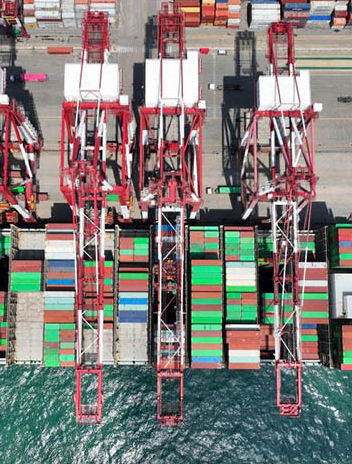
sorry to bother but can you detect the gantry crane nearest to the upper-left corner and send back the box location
[2,0,34,33]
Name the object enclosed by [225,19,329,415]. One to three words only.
container crane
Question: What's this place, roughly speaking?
port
